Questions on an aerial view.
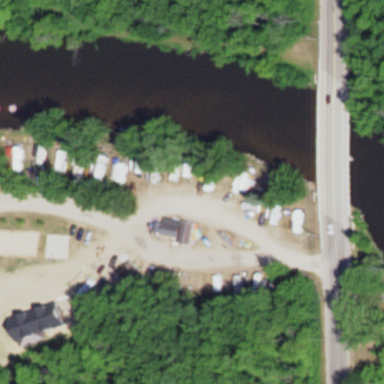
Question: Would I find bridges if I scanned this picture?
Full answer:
Yes, the image includes a bridge.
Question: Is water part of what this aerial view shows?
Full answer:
Yes, there's water in this view.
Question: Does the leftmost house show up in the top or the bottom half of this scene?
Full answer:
You can find the leftmost house in the bottom half.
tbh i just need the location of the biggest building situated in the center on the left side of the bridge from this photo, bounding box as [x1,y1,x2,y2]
[156,216,198,244]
